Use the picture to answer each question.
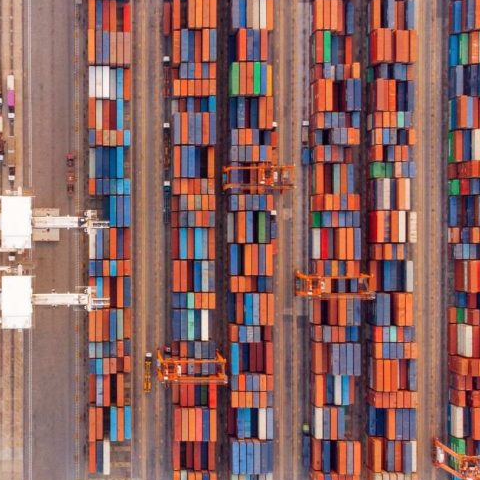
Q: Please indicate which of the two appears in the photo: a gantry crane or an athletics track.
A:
gantry crane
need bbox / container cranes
[218,164,301,199]
[0,260,109,331]
[292,266,381,300]
[154,344,232,383]
[432,436,480,480]
[0,184,109,260]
